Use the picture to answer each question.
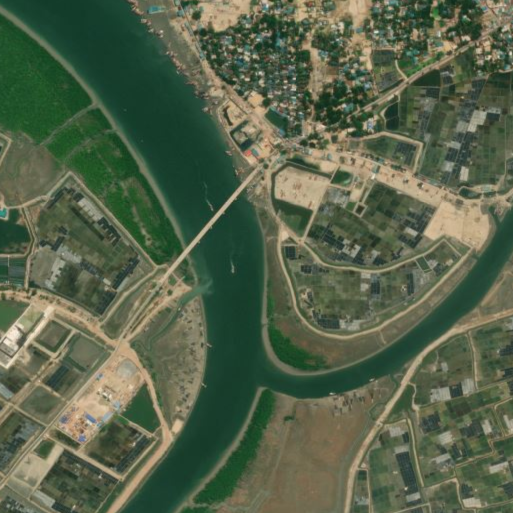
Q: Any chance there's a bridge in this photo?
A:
Yes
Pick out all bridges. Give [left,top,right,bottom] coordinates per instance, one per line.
[160,162,265,279]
